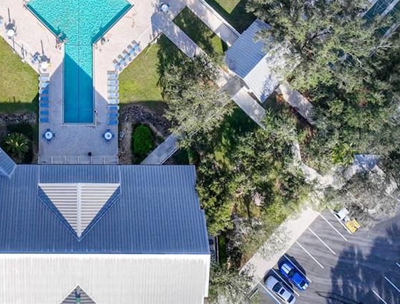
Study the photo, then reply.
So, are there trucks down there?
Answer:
No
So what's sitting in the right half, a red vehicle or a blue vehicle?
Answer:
blue vehicle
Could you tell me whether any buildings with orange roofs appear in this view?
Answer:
No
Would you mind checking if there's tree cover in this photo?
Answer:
Yes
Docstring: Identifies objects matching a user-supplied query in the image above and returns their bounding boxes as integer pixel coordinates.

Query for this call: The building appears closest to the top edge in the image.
[223,18,295,102]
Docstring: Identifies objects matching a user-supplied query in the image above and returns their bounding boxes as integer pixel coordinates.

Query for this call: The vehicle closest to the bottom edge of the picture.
[265,273,297,304]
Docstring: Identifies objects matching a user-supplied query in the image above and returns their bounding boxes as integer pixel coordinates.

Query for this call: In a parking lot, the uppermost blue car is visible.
[280,256,310,288]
